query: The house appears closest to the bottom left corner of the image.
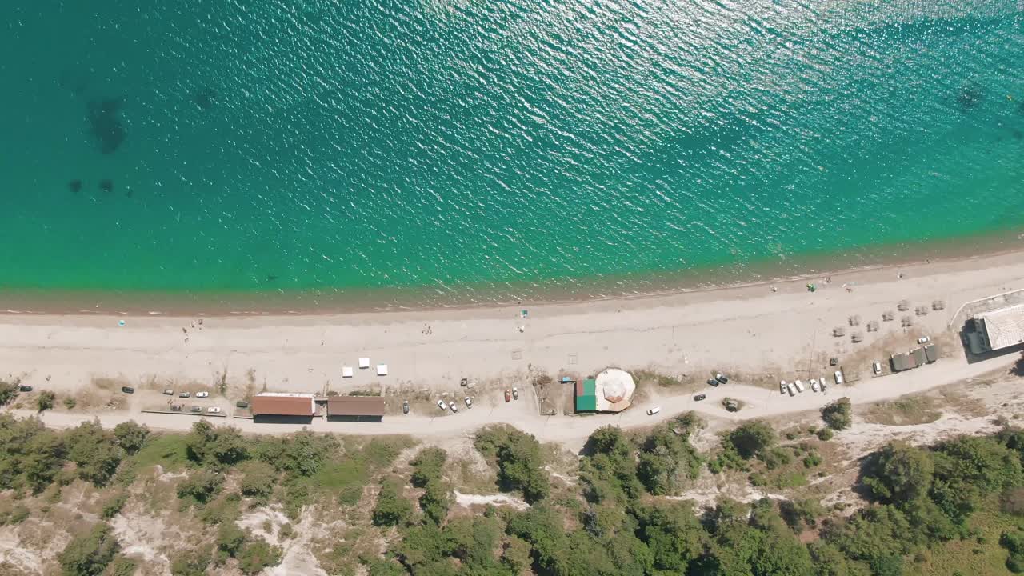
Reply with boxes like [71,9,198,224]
[251,391,317,416]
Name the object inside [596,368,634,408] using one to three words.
building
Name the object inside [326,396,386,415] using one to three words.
house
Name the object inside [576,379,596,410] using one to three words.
building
